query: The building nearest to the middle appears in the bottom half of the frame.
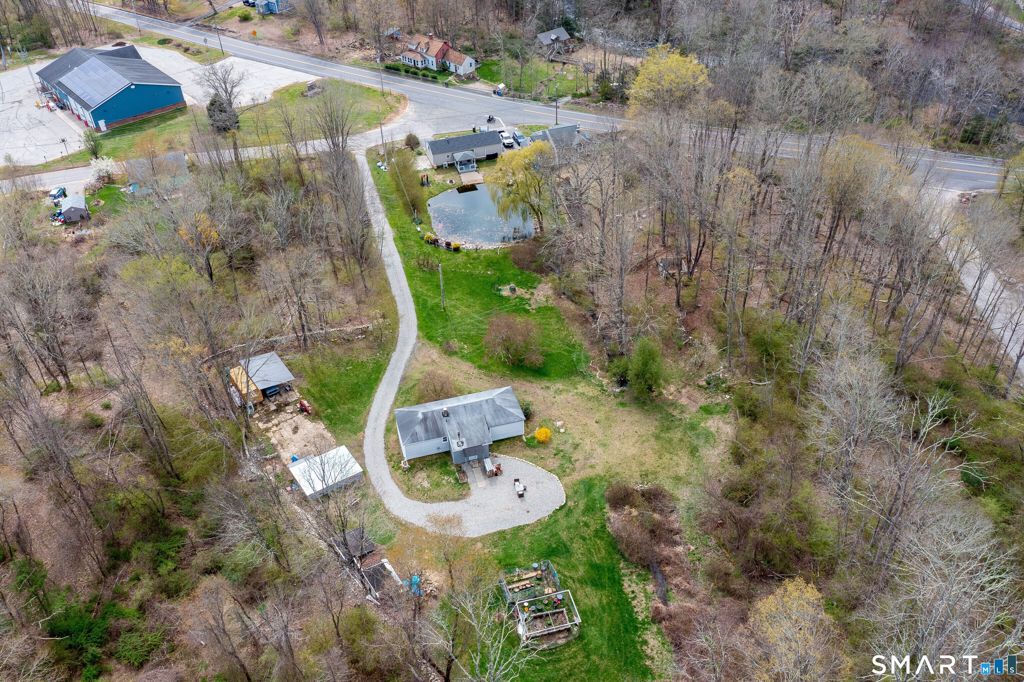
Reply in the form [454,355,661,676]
[394,384,528,471]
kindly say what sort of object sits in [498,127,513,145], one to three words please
vehicle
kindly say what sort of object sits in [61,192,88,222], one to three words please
shed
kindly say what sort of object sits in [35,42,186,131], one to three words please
building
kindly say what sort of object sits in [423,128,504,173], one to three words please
house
